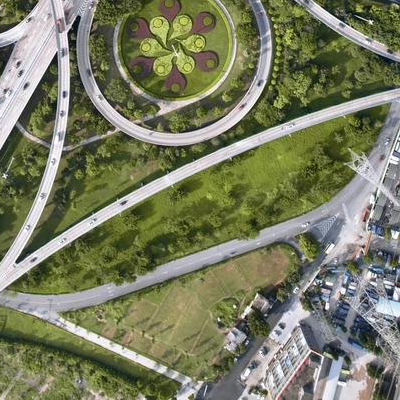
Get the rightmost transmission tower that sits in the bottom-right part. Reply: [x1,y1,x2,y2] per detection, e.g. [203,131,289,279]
[341,265,400,372]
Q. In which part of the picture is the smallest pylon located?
bottom right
